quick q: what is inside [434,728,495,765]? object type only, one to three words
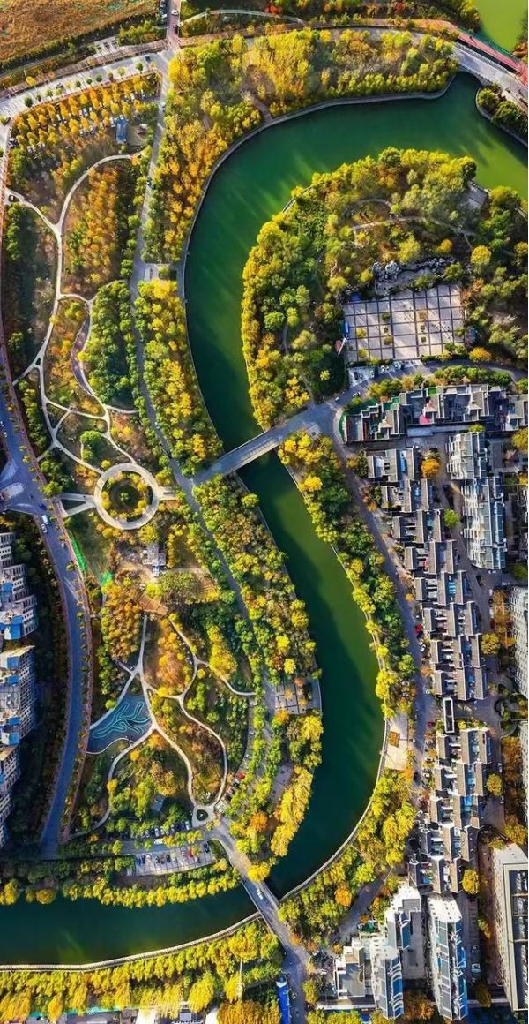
house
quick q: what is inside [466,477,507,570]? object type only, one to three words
building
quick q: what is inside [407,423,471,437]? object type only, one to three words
shed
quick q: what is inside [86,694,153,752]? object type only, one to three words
playground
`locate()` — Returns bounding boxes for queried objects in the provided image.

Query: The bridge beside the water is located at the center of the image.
[188,416,311,491]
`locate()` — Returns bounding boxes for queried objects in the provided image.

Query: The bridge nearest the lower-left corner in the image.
[232,858,287,938]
